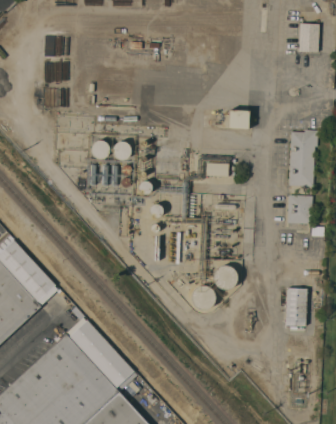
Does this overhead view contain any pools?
No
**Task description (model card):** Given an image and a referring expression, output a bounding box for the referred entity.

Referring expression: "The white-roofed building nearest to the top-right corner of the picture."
[300,24,320,52]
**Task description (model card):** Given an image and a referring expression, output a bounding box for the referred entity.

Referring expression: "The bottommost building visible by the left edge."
[0,334,118,424]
